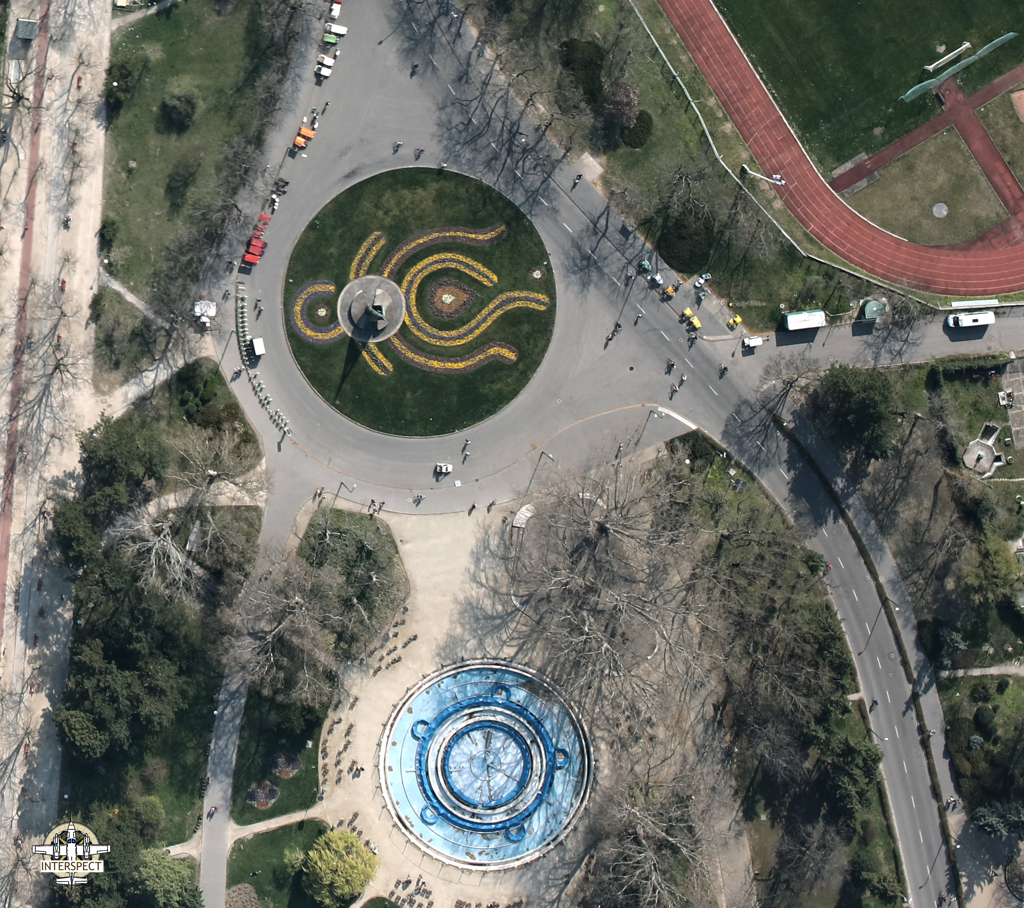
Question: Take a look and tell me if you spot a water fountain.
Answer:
Yes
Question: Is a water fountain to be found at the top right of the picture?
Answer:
No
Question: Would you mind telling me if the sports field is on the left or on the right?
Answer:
right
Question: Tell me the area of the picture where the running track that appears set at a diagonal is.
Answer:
top right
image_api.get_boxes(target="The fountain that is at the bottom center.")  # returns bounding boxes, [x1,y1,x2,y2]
[380,658,594,872]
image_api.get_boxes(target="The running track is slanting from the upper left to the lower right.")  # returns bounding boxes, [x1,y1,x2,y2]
[658,0,1024,296]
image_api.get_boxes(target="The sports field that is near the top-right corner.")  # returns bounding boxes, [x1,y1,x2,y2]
[711,0,1024,245]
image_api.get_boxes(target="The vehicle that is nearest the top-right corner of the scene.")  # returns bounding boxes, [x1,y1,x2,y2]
[946,309,993,328]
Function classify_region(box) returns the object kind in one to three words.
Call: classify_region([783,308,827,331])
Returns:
trailer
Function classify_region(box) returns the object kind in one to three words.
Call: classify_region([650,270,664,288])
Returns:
car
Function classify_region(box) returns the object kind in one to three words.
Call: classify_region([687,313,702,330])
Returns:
car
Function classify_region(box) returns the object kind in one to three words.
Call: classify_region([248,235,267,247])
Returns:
vehicle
